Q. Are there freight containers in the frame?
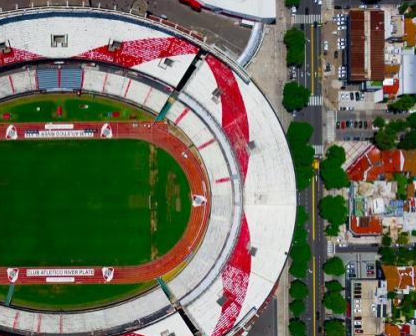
No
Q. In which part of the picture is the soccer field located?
left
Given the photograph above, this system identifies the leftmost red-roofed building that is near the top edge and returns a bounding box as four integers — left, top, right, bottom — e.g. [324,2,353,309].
[344,9,385,82]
